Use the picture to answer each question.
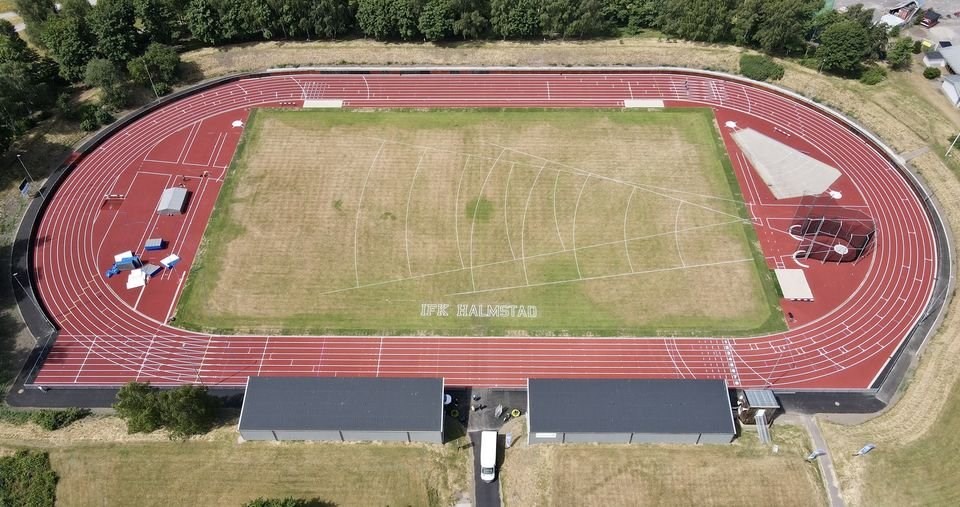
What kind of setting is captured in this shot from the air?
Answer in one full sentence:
It's a sports ground.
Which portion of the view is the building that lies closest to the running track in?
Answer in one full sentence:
The building that lies closest to the running track is located in the bottom right region of the scene.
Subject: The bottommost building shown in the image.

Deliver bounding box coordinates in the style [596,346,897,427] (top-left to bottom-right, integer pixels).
[738,390,779,445]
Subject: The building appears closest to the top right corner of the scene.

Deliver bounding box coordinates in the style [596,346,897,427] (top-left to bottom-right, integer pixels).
[911,5,942,30]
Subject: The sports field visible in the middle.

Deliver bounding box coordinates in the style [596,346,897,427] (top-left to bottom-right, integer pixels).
[172,107,786,337]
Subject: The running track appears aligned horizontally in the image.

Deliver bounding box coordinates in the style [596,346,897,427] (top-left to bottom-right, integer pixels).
[30,74,939,394]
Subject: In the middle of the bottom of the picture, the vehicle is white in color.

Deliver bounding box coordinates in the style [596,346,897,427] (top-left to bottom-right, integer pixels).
[480,430,497,483]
